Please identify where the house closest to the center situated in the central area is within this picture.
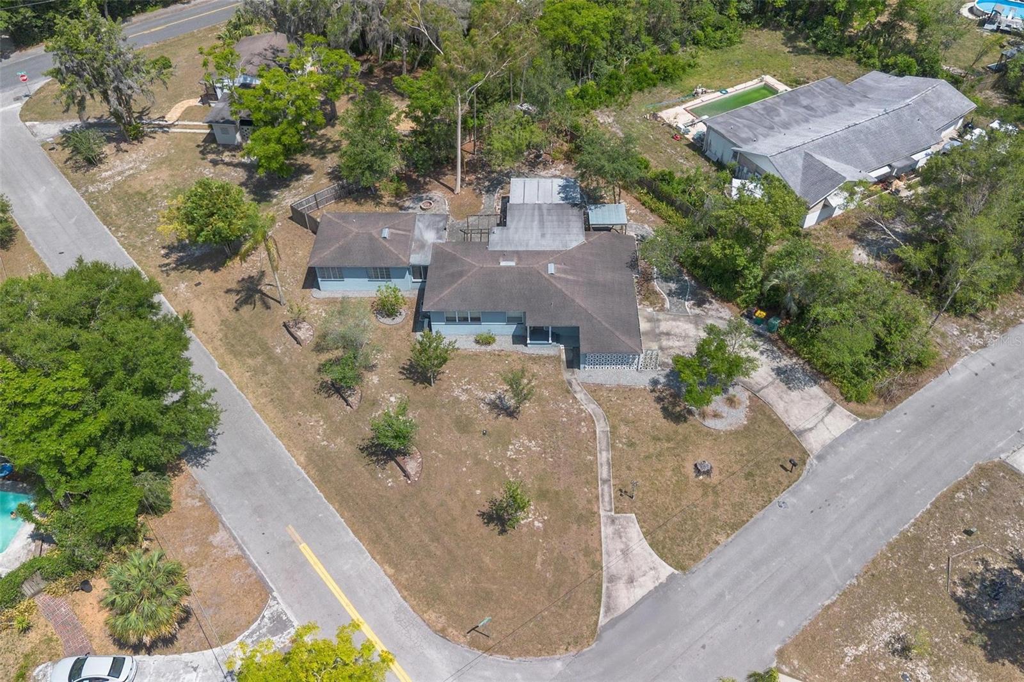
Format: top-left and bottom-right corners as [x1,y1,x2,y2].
[308,178,658,369]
